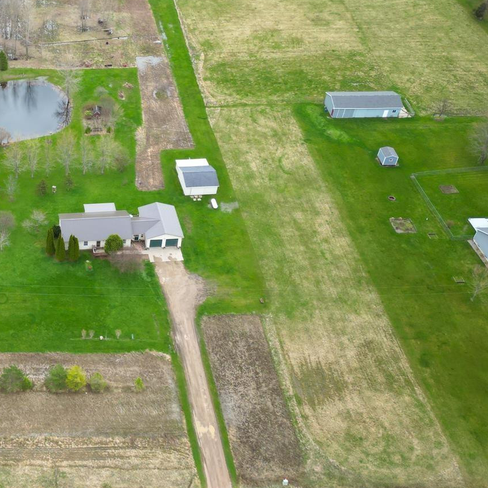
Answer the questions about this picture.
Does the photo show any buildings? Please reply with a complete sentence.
Yes, this view includes a building.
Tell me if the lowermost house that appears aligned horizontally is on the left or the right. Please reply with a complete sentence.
The lowermost house that appears aligned horizontally appears in the left half of the scene.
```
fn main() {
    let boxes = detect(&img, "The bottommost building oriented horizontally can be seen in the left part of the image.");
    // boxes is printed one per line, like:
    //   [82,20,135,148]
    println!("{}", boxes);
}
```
[60,201,185,254]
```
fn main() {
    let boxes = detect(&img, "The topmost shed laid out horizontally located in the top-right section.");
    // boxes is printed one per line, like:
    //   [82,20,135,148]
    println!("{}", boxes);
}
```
[324,91,403,117]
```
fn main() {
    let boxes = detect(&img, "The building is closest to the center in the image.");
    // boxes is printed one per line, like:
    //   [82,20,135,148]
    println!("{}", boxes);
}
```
[176,158,219,195]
